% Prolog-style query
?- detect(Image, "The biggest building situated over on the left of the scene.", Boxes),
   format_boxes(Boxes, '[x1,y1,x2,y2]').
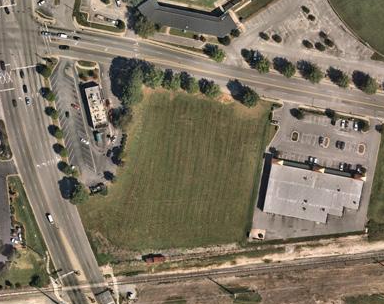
[85,85,107,129]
